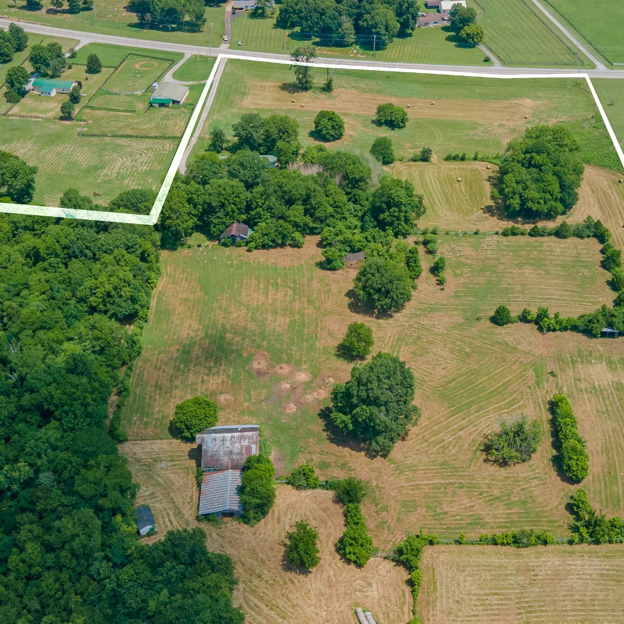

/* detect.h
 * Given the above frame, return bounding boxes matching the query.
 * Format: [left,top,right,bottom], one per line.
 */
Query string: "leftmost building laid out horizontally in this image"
[31,77,78,96]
